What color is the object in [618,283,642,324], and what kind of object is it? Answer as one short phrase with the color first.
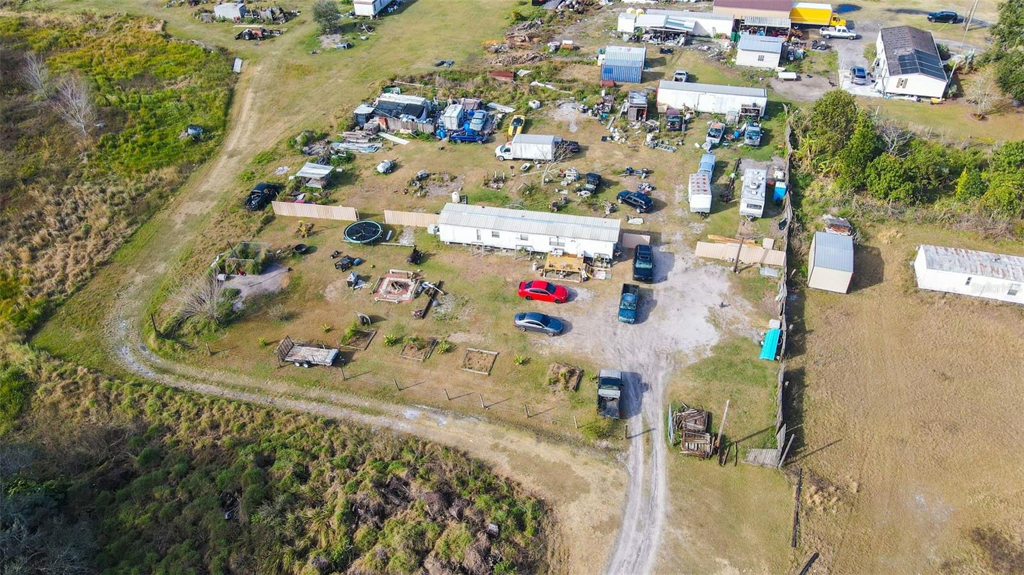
blue vehicle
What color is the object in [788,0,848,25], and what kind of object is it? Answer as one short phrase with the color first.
yellow truck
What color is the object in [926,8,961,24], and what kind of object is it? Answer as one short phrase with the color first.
blue car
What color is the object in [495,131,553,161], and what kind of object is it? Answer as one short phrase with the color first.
white van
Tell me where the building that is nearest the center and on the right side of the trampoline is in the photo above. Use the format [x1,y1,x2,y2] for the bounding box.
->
[438,202,621,261]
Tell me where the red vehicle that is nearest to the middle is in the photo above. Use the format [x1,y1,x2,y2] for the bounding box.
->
[520,278,572,302]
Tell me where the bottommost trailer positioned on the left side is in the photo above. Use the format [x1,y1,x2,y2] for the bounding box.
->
[270,329,349,364]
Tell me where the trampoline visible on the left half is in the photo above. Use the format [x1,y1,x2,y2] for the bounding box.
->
[343,221,382,248]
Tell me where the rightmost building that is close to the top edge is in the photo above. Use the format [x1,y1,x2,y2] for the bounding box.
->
[869,25,953,100]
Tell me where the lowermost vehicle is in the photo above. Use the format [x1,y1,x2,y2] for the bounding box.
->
[597,369,624,423]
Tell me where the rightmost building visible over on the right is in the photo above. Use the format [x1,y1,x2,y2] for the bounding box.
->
[913,241,1024,304]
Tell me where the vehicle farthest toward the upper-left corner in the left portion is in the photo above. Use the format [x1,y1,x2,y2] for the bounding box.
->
[233,23,264,38]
